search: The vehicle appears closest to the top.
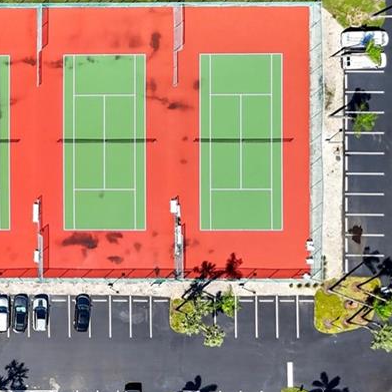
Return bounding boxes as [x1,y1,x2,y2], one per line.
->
[342,31,389,49]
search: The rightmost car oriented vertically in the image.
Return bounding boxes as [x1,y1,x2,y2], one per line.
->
[75,295,93,332]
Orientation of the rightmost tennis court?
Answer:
from top to bottom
